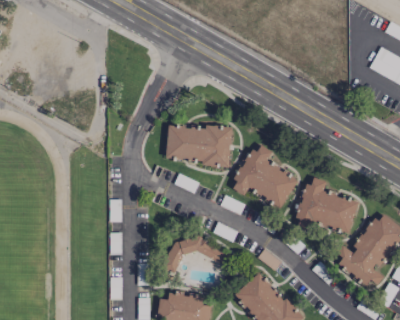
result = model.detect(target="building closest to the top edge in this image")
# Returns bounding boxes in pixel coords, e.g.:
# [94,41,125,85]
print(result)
[166,126,234,169]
